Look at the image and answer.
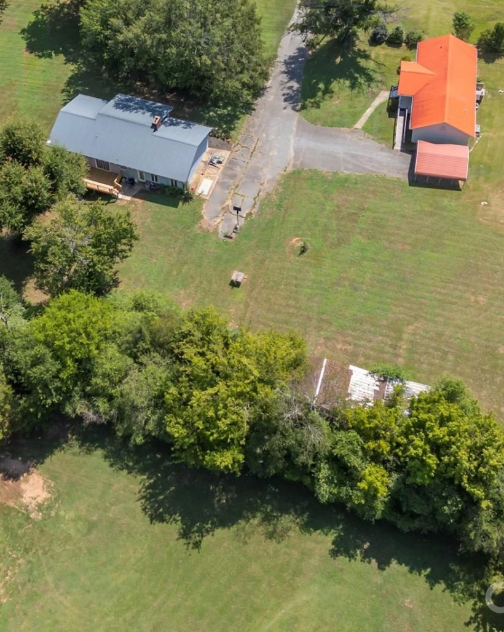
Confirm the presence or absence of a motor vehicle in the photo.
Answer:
No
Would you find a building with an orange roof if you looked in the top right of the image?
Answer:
Yes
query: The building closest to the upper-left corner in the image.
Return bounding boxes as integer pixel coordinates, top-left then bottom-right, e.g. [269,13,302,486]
[47,95,213,194]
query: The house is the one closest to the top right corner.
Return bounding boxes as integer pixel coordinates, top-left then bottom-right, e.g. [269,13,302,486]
[394,35,477,151]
